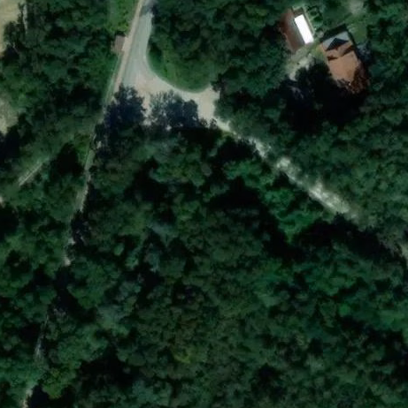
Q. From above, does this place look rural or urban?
rural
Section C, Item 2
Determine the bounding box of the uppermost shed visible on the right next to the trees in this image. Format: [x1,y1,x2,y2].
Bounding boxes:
[278,7,314,52]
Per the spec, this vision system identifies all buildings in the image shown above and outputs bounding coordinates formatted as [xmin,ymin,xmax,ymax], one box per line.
[319,27,367,85]
[110,34,126,51]
[278,7,314,52]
